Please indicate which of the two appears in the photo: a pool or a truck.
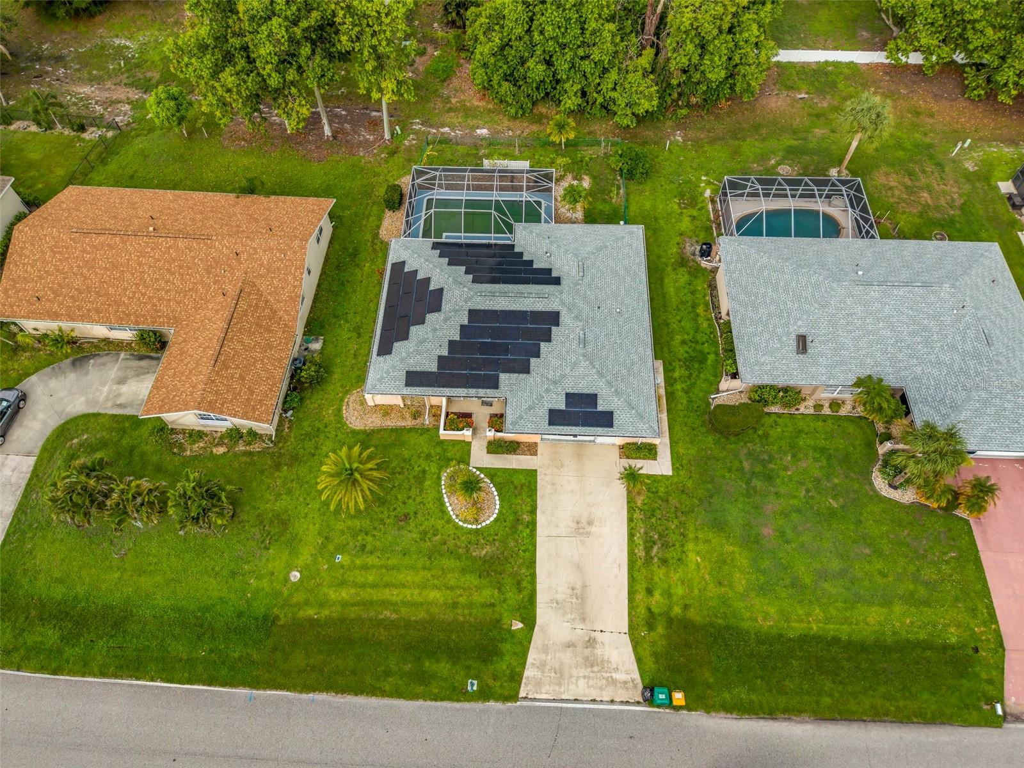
pool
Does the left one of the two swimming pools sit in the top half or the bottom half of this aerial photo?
top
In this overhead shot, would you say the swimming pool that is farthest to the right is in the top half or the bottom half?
top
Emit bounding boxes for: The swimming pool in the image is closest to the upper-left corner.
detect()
[412,190,552,242]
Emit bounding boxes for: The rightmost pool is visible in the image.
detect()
[731,201,856,239]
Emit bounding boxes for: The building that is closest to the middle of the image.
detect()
[362,222,663,446]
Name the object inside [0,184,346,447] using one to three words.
house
